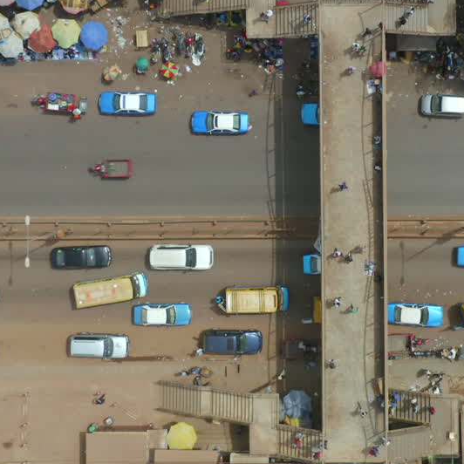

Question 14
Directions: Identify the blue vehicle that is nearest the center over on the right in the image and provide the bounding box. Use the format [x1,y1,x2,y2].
[302,253,320,276]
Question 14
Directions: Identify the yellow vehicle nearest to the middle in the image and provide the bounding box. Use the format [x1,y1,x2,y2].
[220,285,289,316]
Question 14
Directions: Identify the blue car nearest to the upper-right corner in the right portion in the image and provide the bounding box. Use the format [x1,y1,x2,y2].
[301,103,320,126]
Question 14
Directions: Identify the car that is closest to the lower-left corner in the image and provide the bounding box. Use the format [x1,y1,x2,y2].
[65,331,130,362]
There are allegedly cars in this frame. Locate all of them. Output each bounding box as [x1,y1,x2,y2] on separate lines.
[97,88,158,118]
[301,103,320,126]
[50,243,112,271]
[302,253,320,276]
[386,302,445,330]
[191,109,251,137]
[202,328,262,358]
[454,245,464,268]
[418,91,464,119]
[131,301,192,329]
[148,243,213,273]
[65,331,130,362]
